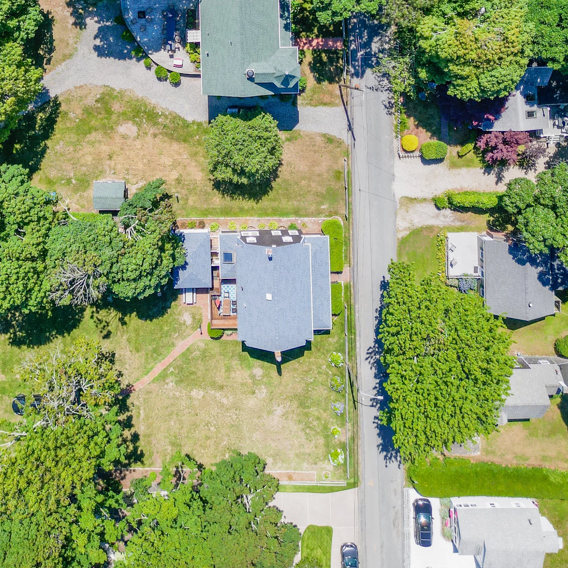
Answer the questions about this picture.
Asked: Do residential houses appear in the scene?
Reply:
Yes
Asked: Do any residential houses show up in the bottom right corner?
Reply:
Yes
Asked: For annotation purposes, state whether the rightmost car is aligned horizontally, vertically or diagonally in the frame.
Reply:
vertically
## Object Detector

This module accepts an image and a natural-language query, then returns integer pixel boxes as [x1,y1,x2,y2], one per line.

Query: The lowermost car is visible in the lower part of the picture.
[338,538,362,568]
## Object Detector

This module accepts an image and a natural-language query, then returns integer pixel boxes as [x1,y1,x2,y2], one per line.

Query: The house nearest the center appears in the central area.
[210,227,333,362]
